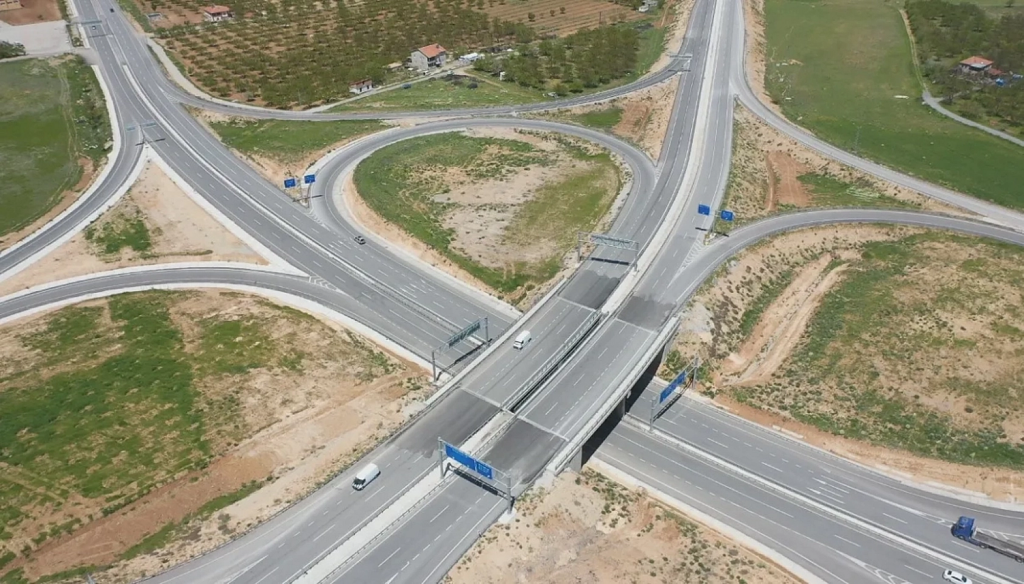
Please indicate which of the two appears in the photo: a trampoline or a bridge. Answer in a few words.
bridge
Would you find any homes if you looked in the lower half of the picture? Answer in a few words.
No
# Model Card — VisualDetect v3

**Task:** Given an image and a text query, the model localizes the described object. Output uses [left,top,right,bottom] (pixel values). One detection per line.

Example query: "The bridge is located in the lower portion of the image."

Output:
[406,264,687,486]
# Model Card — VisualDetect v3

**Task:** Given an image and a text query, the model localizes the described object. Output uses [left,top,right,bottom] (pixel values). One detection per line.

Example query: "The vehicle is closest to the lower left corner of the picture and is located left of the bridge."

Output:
[355,462,382,490]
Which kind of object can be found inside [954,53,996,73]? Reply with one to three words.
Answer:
house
